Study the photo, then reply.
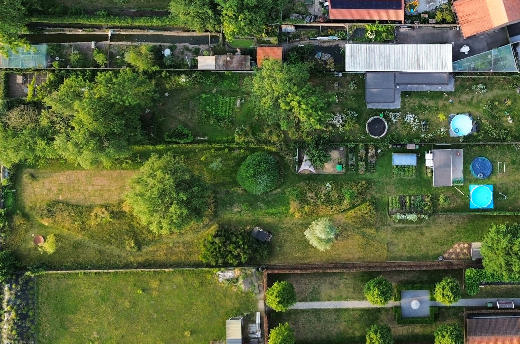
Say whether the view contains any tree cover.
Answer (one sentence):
Yes, there is tree cover in the image.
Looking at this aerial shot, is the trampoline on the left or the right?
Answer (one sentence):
It is on the right.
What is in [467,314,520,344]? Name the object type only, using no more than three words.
barn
